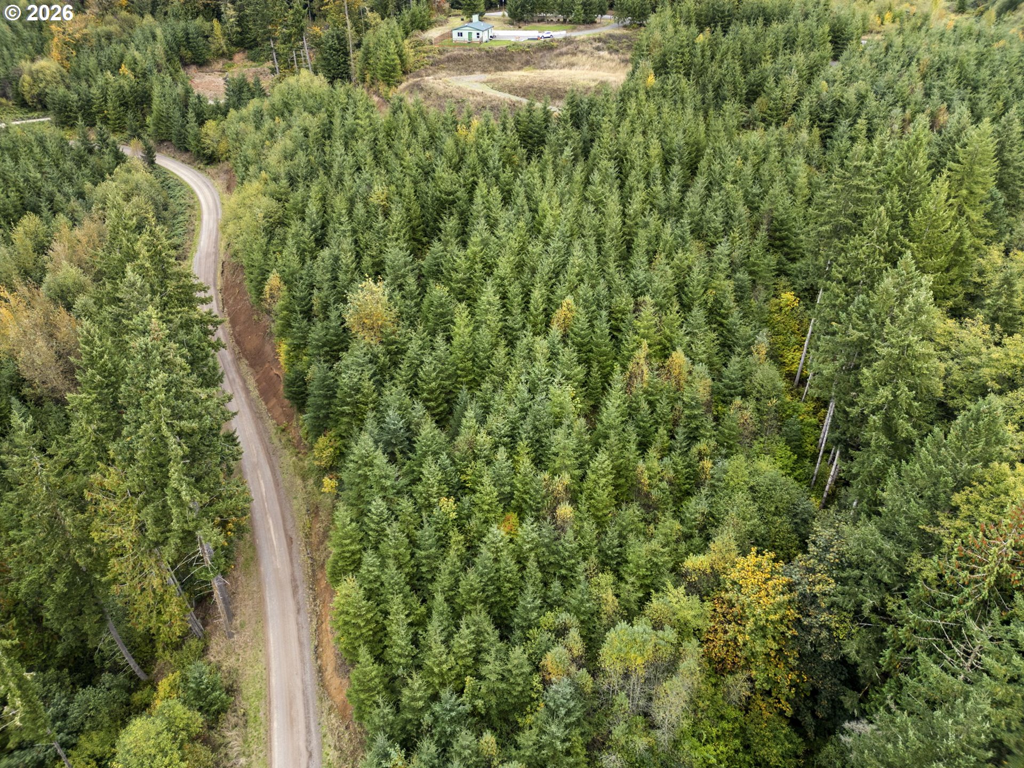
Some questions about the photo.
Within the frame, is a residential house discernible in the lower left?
No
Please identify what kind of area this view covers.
forest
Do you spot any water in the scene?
No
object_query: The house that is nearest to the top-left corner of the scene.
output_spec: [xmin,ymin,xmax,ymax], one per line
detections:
[450,12,494,44]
